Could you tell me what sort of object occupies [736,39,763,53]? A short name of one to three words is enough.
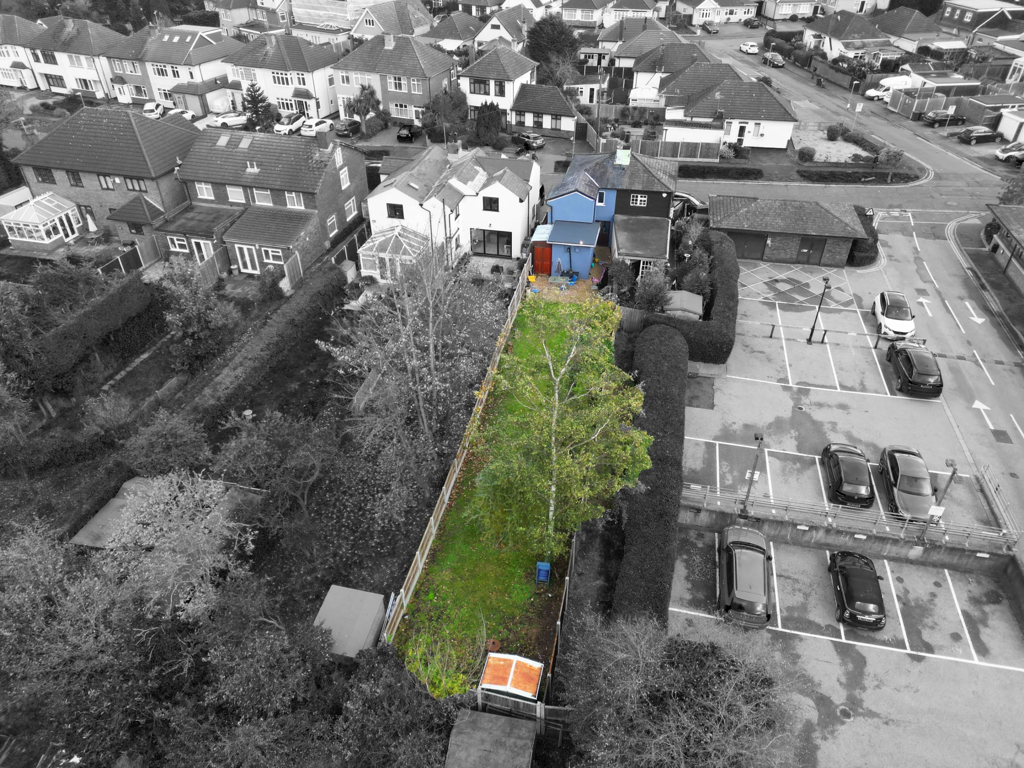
car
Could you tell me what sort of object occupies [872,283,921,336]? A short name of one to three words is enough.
car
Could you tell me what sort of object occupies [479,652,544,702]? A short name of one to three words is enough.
shed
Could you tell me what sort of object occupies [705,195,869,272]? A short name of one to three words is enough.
shed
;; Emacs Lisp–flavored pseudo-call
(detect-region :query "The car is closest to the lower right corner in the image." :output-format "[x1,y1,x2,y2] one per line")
[829,544,894,628]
